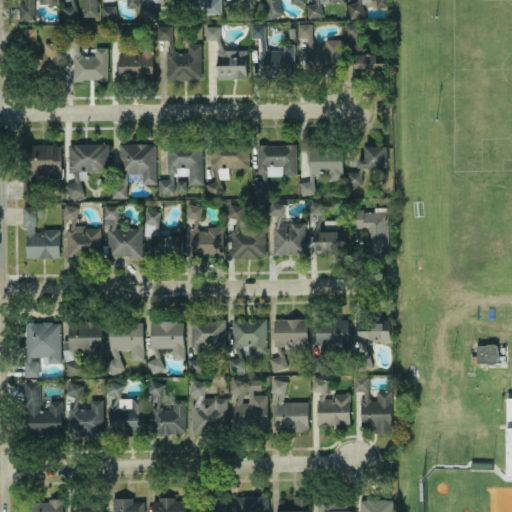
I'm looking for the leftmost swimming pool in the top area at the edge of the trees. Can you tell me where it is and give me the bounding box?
[38,5,59,22]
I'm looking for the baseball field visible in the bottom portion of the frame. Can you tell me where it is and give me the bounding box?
[426,474,512,512]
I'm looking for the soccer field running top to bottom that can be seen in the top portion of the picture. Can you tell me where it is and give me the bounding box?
[454,0,512,172]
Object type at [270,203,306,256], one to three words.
house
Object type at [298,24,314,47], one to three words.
building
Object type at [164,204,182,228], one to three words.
swimming pool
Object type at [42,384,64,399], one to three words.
swimming pool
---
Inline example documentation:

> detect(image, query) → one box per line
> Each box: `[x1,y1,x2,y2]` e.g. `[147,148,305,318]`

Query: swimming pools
[315,24,342,41]
[124,381,144,399]
[366,9,388,20]
[222,25,249,46]
[370,376,389,398]
[285,202,307,220]
[80,204,102,226]
[128,183,154,200]
[199,206,221,228]
[117,0,138,22]
[268,28,286,47]
[374,344,392,370]
[42,384,64,399]
[164,352,186,376]
[164,204,182,228]
[38,5,59,22]
[124,204,140,227]
[284,0,303,20]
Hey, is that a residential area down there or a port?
residential area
